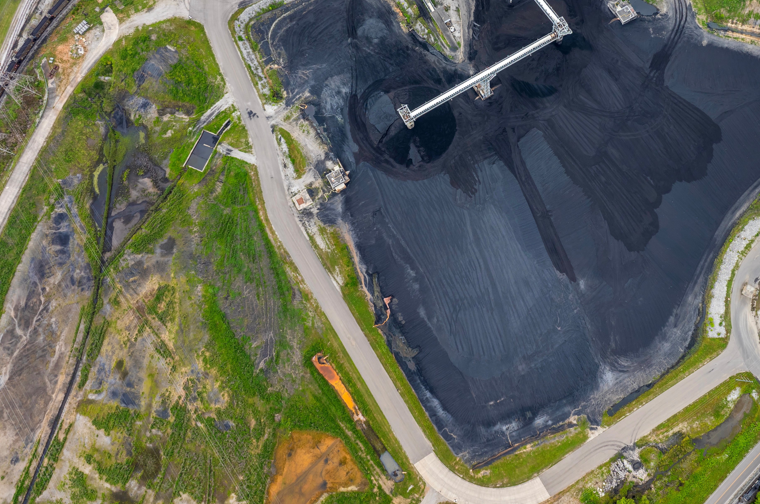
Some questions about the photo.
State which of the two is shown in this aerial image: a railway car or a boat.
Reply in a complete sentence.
Visible in the photo is a railway car.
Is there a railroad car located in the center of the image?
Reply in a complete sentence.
No, I can find no railroad car in the center of the image.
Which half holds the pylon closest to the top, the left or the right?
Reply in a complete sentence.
The pylon closest to the top is on the left side of the image.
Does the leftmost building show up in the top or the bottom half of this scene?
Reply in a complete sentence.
The leftmost building is in the top half of the image.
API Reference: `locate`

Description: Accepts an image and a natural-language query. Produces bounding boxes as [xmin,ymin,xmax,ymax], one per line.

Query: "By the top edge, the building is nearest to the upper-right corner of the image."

[608,0,637,25]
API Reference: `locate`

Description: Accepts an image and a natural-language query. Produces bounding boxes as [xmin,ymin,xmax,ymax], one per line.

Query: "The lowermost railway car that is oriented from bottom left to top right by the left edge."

[1,60,20,84]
